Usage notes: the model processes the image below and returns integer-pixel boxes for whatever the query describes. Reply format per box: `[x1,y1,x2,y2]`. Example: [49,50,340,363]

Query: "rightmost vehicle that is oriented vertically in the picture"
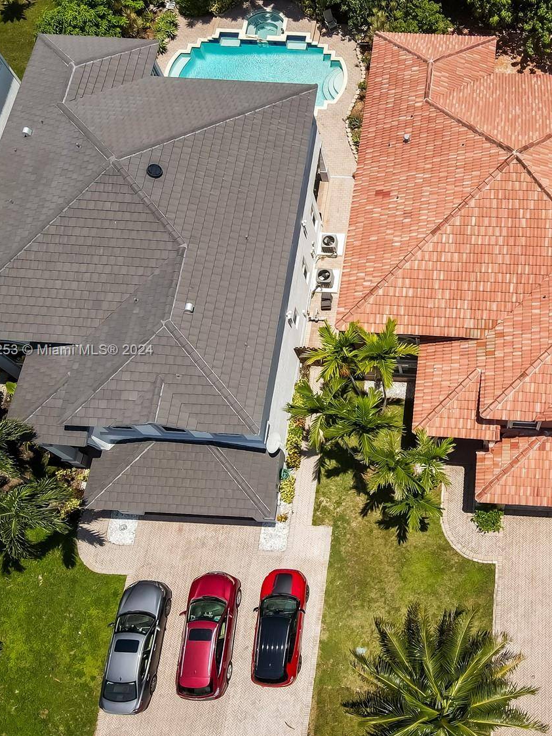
[250,569,309,686]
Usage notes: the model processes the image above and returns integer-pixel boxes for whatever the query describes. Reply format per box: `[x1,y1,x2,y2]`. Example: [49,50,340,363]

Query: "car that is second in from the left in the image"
[176,571,241,700]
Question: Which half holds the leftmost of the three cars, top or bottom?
bottom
